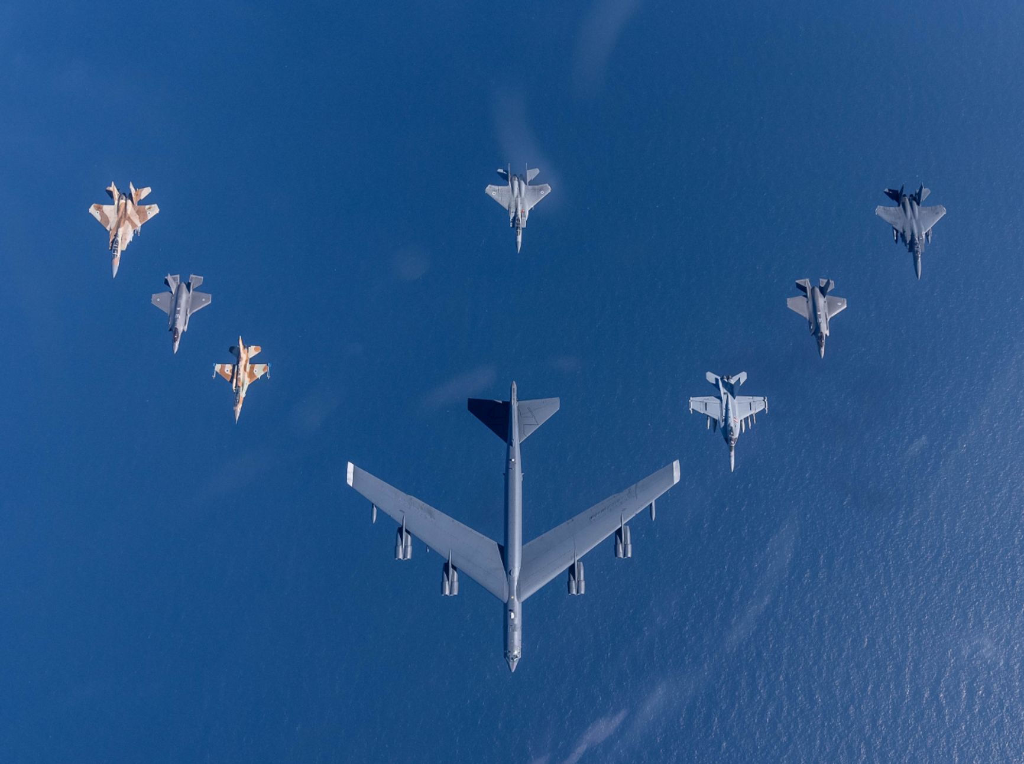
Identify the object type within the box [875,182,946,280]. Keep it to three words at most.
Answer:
airplane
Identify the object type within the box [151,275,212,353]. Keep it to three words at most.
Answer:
airplane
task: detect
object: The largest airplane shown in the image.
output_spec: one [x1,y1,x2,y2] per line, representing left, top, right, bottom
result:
[346,382,680,672]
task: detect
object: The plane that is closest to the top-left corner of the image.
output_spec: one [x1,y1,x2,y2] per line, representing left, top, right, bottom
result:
[89,181,159,278]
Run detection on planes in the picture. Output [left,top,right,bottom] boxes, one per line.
[151,275,212,353]
[346,382,680,672]
[786,279,847,358]
[213,338,271,421]
[89,181,159,278]
[486,162,551,253]
[875,182,946,280]
[690,372,767,472]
